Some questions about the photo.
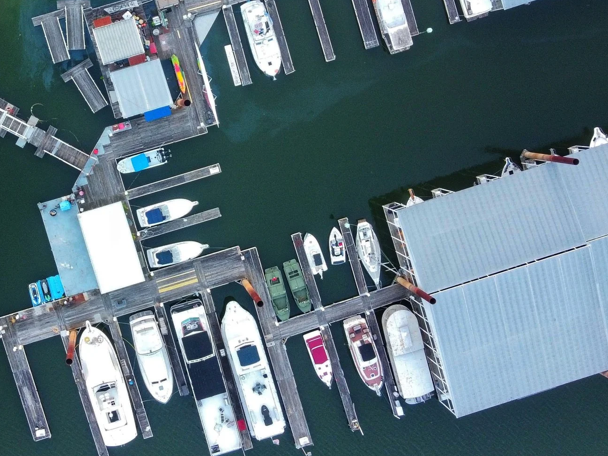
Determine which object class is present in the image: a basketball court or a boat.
boat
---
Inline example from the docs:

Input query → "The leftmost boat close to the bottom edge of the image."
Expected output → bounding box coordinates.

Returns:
[77,320,137,447]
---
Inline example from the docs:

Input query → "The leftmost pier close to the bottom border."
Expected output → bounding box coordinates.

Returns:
[1,338,51,442]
